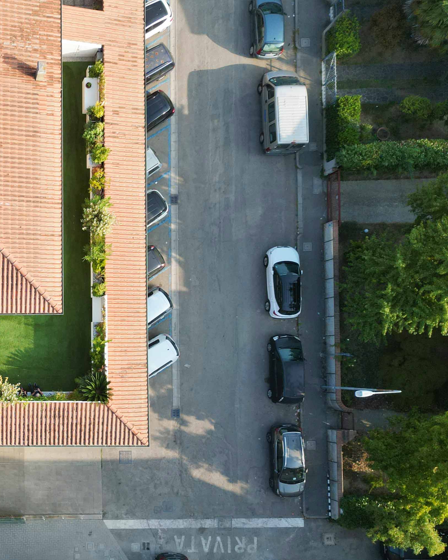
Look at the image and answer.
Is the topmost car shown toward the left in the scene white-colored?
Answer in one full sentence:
Yes, the topmost car shown toward the left is white.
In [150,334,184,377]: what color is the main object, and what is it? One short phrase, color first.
white car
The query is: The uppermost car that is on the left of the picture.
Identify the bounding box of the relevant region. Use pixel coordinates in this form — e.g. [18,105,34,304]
[150,0,177,38]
